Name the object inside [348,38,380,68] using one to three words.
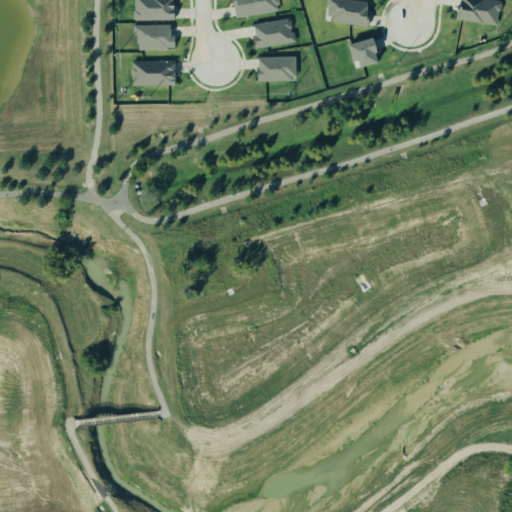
house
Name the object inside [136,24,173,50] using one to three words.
house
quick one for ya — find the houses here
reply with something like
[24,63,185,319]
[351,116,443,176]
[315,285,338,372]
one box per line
[328,0,370,26]
[136,24,173,50]
[133,0,174,19]
[456,0,501,26]
[348,38,380,68]
[235,0,280,18]
[258,56,298,81]
[254,19,296,48]
[132,60,175,86]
